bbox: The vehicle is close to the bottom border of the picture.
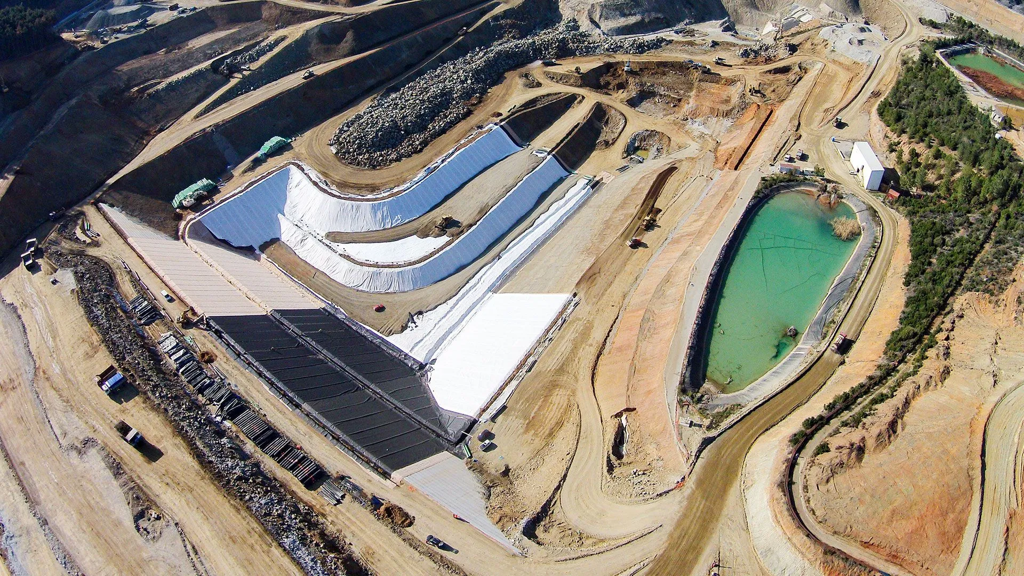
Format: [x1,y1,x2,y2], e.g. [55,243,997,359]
[421,531,447,549]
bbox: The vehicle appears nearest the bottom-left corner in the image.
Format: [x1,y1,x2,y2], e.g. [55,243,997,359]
[111,417,143,445]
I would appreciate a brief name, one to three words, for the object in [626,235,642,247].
vehicle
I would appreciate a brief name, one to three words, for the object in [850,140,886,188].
shed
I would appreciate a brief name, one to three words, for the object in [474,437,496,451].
vehicle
